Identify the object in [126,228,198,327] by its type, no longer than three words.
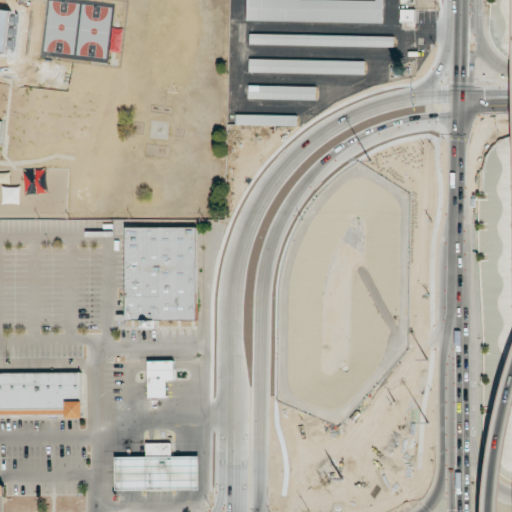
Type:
building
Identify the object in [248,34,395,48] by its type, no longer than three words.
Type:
building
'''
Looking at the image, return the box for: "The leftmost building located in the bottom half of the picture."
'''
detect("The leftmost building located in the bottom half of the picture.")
[0,374,84,418]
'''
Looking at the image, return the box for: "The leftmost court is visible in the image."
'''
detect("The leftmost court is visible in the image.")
[44,1,80,55]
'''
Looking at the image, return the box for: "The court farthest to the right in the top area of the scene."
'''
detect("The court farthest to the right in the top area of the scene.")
[77,4,112,59]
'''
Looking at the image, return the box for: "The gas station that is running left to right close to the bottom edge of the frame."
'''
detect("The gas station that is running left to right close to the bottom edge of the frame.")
[114,456,198,491]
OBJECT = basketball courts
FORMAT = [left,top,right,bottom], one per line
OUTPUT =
[77,4,112,59]
[44,1,80,55]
